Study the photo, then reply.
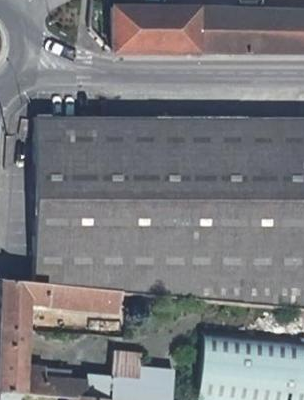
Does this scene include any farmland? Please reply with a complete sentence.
No, the picture contains no farmland.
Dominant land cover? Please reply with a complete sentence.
For the most part, this view shows buildings.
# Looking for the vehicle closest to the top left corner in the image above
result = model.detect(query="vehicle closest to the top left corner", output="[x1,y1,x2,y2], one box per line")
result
[44,40,75,58]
